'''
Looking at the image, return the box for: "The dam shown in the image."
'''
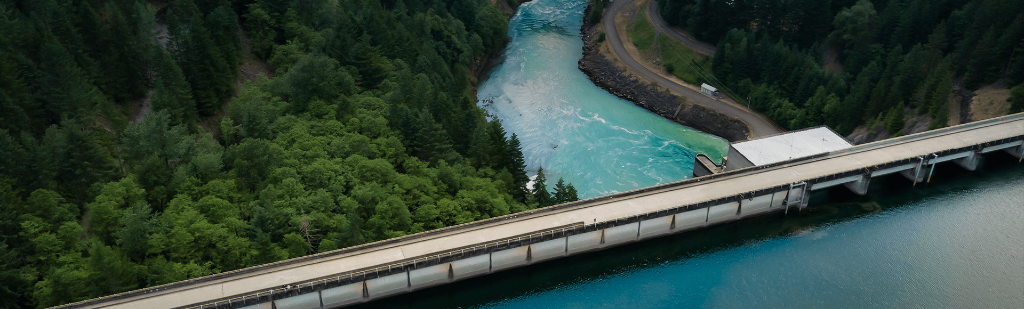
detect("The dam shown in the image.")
[36,113,1024,309]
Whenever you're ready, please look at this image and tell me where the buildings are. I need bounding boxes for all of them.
[728,122,859,171]
[700,85,721,101]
